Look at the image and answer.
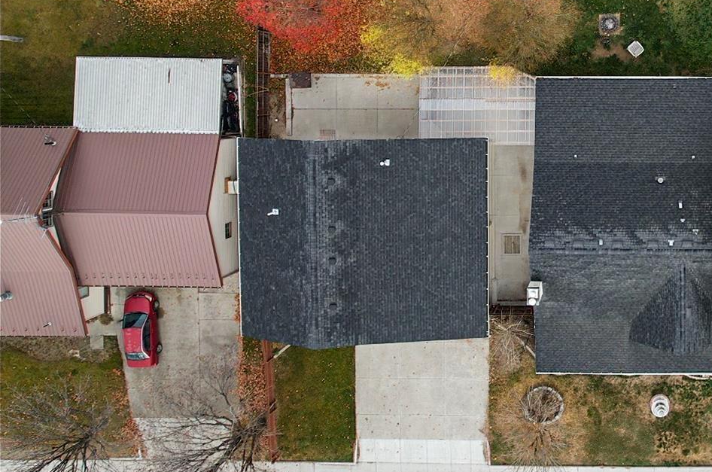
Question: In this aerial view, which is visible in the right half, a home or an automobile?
home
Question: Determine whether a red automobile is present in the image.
Yes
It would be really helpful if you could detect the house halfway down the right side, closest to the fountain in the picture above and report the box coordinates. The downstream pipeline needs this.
[529,76,712,377]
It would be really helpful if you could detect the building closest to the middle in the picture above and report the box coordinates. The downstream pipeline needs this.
[238,133,491,350]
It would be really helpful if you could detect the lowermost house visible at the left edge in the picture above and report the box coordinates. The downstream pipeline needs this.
[0,126,238,339]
